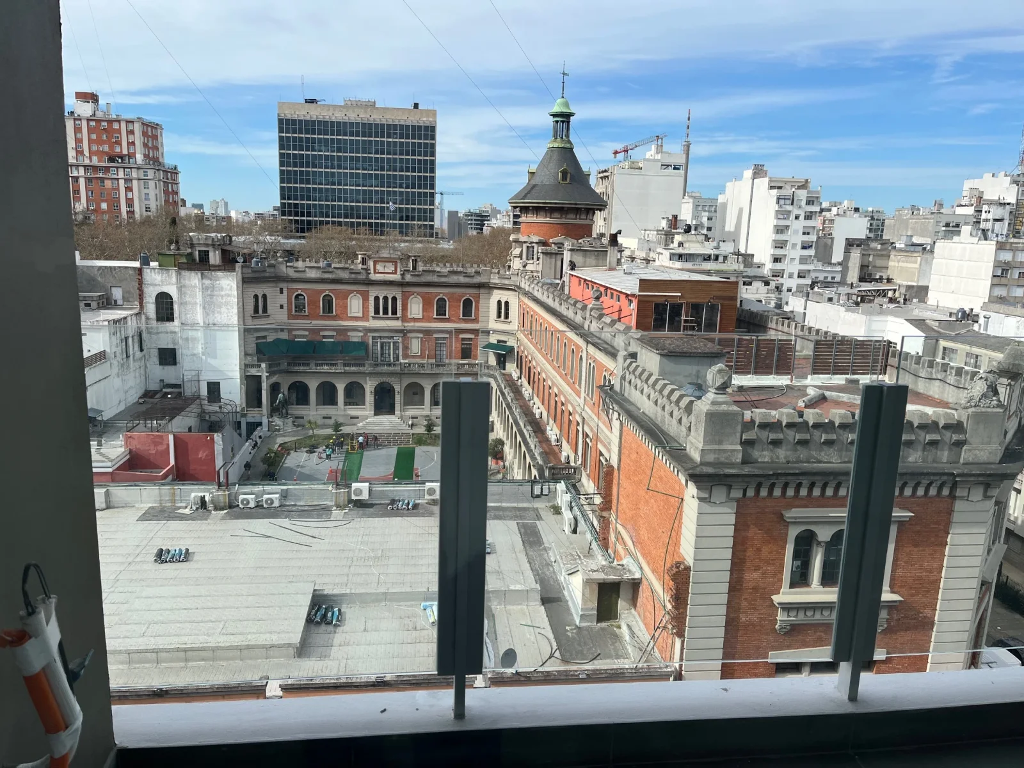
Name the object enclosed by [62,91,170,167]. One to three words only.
building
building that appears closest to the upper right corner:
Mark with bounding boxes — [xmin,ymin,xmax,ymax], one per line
[964,158,1024,200]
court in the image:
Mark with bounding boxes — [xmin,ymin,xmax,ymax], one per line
[280,445,440,485]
